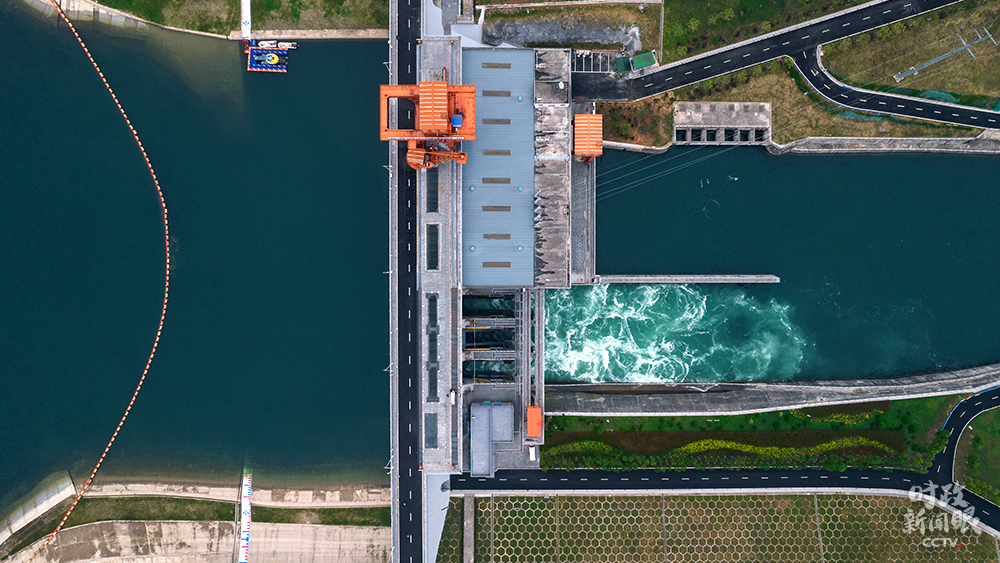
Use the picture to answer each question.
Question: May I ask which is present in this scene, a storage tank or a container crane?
container crane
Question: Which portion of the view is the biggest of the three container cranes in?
top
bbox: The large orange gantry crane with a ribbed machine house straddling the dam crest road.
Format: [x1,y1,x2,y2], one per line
[380,65,477,169]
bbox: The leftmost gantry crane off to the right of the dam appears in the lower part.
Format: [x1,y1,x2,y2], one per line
[523,400,545,437]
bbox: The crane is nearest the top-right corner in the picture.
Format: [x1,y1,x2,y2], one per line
[573,114,603,168]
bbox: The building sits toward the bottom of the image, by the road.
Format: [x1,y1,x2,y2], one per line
[471,402,514,476]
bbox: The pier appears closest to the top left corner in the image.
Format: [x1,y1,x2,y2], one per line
[247,48,289,72]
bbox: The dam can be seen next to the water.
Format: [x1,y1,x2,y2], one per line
[390,0,493,563]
